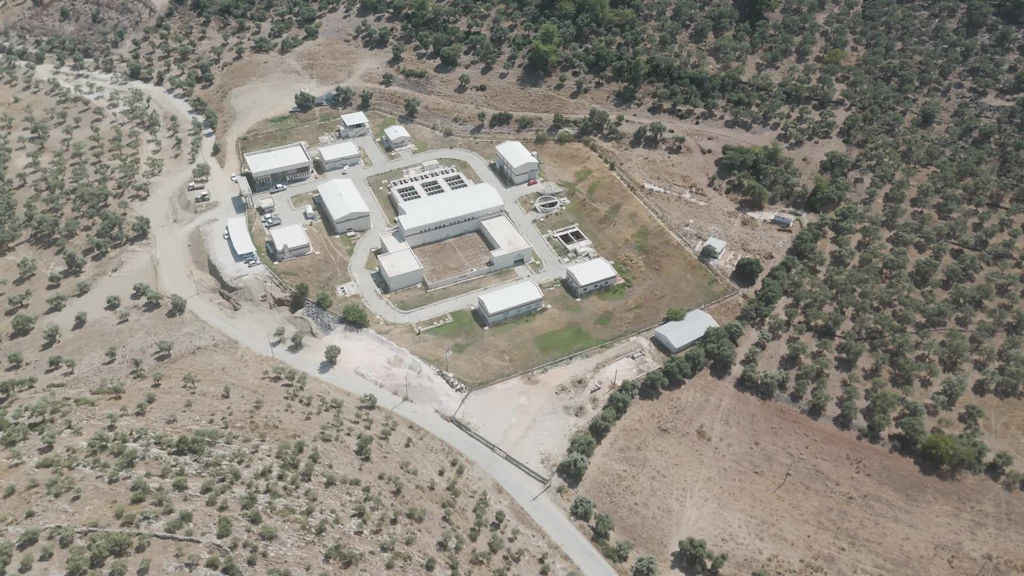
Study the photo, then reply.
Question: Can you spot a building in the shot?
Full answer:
Yes, the photo shows a building.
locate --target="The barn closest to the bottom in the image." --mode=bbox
[654,310,715,354]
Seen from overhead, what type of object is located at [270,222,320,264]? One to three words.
building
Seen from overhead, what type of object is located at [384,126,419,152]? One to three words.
house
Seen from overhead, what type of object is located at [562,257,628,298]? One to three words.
building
